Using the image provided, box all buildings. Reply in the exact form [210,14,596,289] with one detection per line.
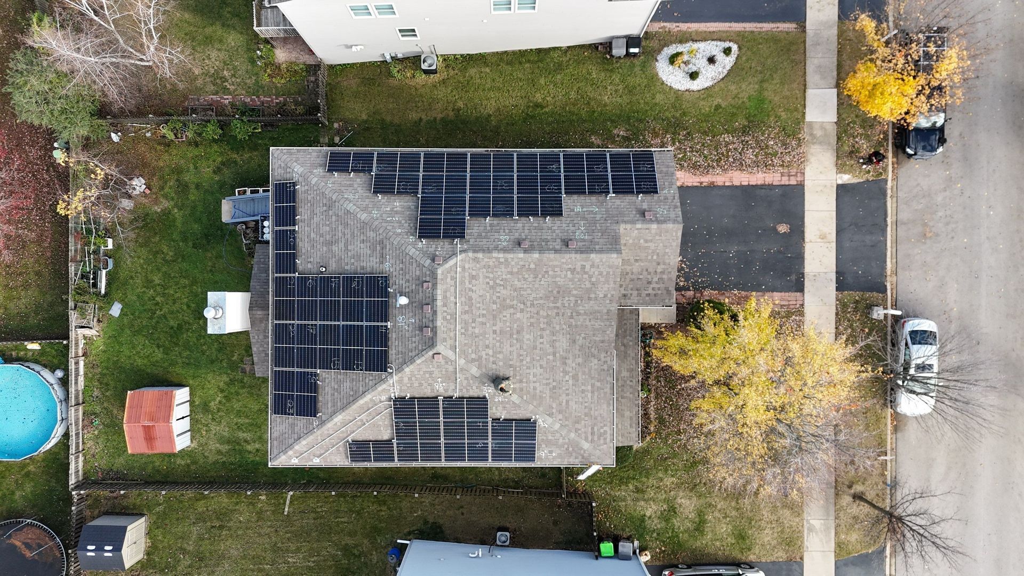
[123,388,190,454]
[261,0,662,65]
[77,516,146,572]
[207,144,684,470]
[394,539,651,576]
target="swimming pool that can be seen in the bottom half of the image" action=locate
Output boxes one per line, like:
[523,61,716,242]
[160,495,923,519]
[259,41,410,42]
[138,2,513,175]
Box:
[0,353,81,461]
